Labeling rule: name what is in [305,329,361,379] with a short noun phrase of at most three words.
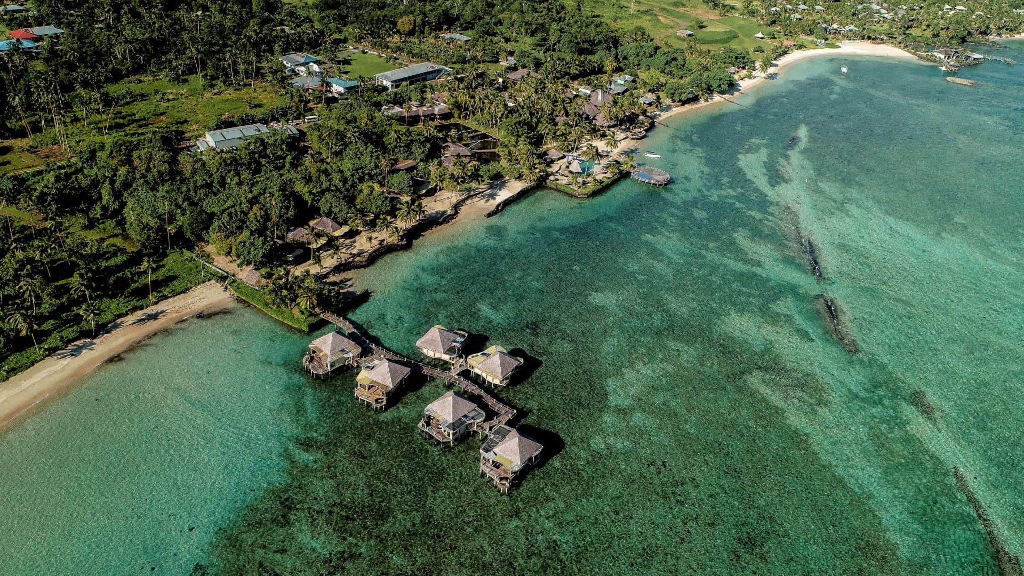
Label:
house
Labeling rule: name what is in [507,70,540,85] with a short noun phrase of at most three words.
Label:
shed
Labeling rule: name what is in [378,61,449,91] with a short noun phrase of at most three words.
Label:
building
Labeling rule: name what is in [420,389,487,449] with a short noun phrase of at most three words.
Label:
house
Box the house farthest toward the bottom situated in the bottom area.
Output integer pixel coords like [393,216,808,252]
[479,425,545,496]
